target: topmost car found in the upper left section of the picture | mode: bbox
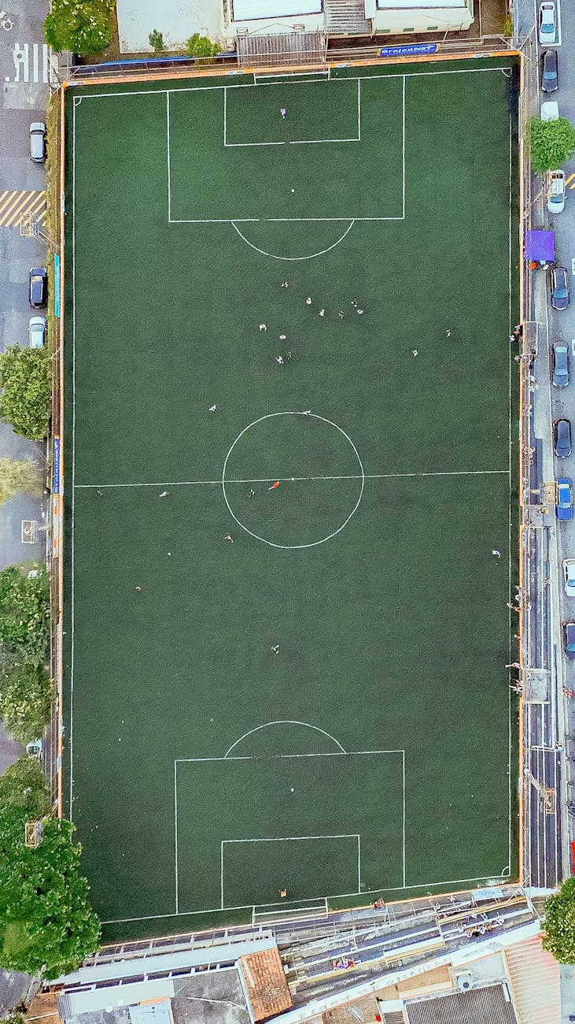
[28,124,47,166]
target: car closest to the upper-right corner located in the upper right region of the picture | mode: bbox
[538,2,558,46]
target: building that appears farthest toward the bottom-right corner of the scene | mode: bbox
[503,931,561,1024]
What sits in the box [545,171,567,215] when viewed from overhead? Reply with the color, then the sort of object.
white car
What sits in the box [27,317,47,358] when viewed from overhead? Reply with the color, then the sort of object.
white car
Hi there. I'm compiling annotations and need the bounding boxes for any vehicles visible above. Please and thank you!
[24,733,44,769]
[538,2,558,46]
[540,101,561,130]
[545,171,567,215]
[552,419,573,459]
[27,317,47,358]
[549,267,571,311]
[550,342,571,388]
[27,268,47,310]
[28,124,47,166]
[539,50,560,94]
[561,558,575,597]
[568,838,575,875]
[554,478,575,521]
[562,620,575,660]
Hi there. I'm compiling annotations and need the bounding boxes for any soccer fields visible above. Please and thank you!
[60,57,521,948]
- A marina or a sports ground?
sports ground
